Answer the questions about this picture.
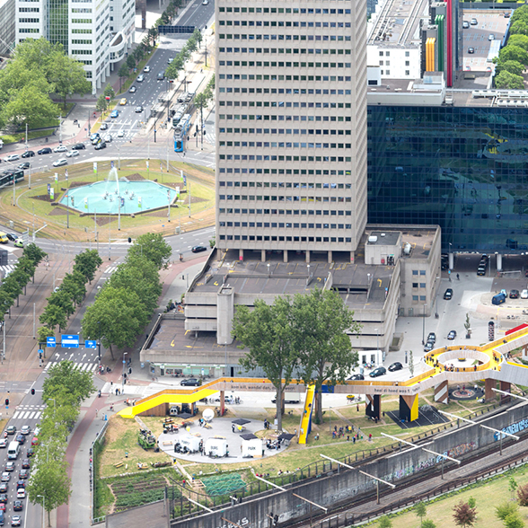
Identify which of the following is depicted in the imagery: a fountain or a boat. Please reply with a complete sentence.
There is a fountain in the scene.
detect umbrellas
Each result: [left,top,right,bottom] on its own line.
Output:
[276,434,297,442]
[237,434,258,442]
[230,419,251,435]
[175,412,195,429]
